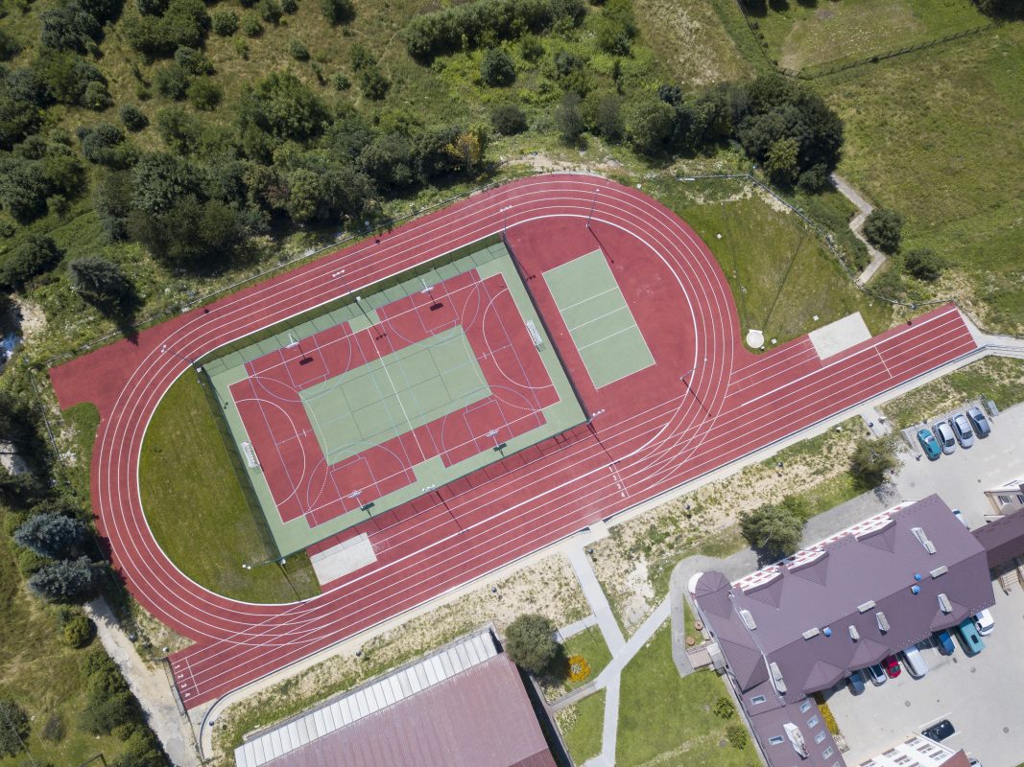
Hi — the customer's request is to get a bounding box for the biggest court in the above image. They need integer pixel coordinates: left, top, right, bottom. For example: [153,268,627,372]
[203,241,587,557]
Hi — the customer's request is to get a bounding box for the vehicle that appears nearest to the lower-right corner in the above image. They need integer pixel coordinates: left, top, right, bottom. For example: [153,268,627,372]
[961,747,984,767]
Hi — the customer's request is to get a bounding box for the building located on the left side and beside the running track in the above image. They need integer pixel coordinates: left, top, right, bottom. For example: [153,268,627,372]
[238,625,556,767]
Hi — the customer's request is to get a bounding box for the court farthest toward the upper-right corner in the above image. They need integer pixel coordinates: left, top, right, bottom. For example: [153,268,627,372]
[542,249,656,390]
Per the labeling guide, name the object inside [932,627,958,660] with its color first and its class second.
blue car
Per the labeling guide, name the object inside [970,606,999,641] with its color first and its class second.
white van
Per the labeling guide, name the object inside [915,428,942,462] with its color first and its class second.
blue car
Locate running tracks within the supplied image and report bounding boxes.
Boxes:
[50,175,979,711]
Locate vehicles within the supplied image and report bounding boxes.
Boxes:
[898,643,929,681]
[881,653,904,682]
[931,421,957,454]
[948,414,975,447]
[865,660,890,691]
[961,747,984,767]
[952,616,985,657]
[843,671,868,702]
[919,715,958,745]
[965,405,993,439]
[932,627,958,660]
[915,428,942,462]
[970,606,999,641]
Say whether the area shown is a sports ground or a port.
sports ground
